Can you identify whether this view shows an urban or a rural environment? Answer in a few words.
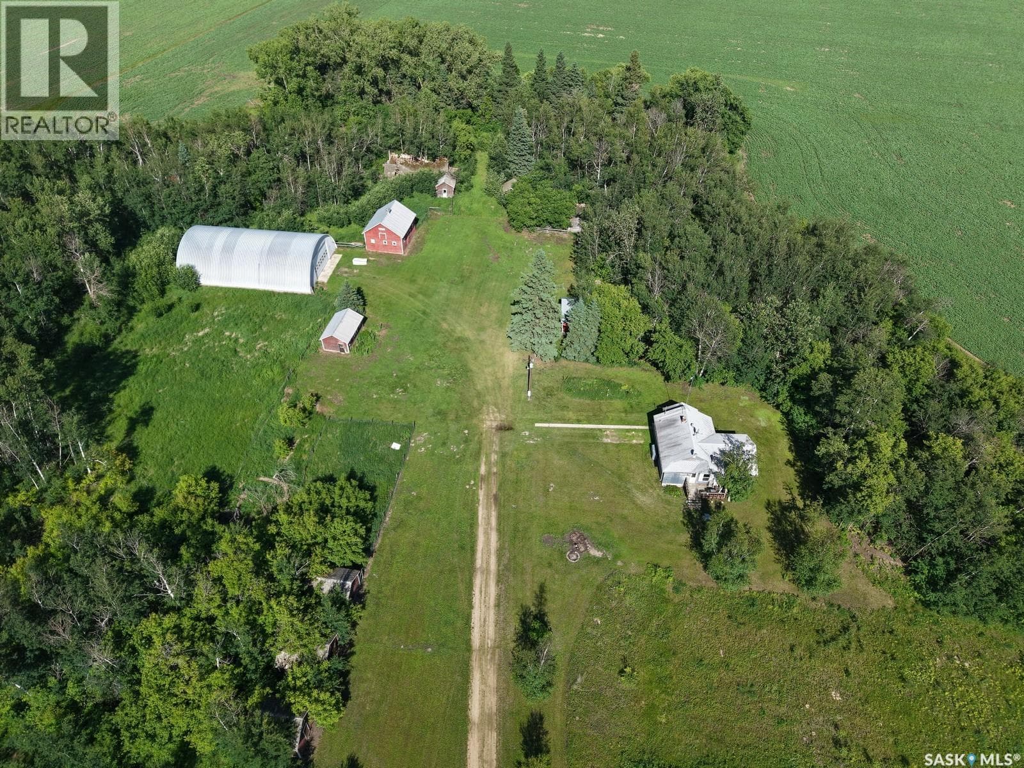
rural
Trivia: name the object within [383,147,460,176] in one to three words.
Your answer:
barn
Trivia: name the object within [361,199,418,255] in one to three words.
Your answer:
barn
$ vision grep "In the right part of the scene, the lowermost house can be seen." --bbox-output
[652,401,760,513]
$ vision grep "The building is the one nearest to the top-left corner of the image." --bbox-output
[171,219,340,294]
